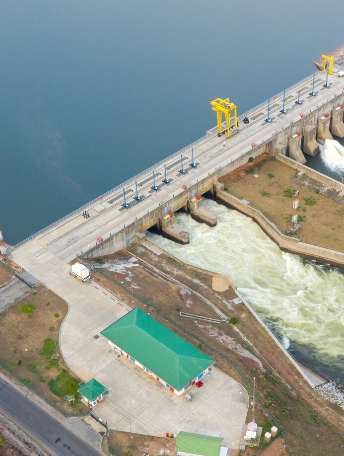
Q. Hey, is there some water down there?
Yes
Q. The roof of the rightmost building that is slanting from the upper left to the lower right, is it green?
Yes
